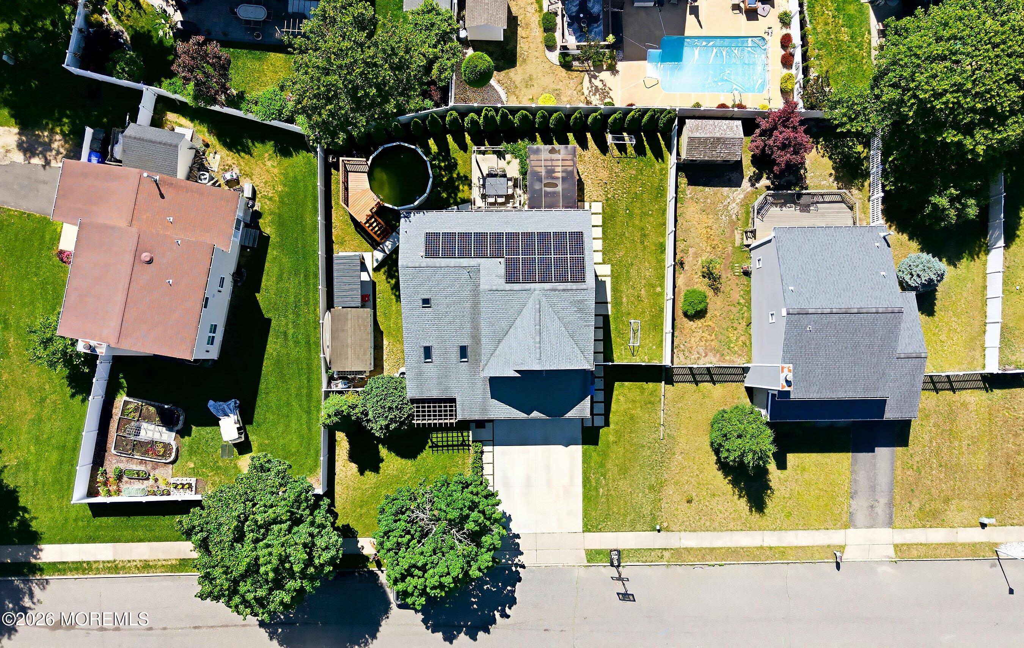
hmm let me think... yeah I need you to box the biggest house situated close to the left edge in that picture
[49,158,249,361]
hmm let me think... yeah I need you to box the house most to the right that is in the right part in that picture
[743,224,930,422]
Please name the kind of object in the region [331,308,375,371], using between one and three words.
shed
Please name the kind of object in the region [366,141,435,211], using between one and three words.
swimming pool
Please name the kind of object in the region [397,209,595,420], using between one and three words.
house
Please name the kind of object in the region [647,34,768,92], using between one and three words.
swimming pool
